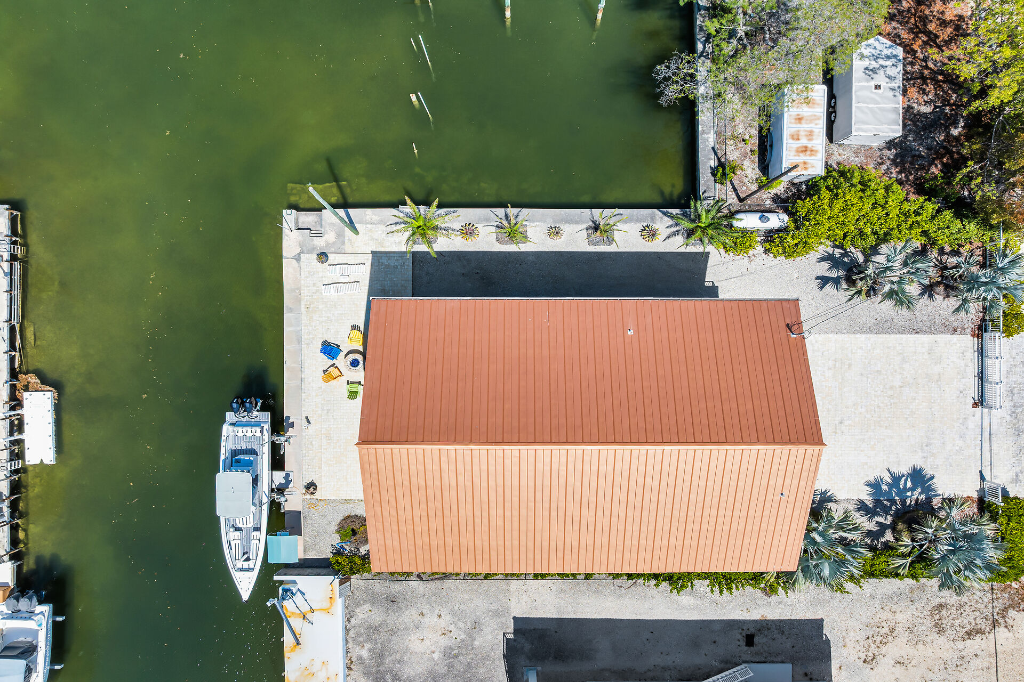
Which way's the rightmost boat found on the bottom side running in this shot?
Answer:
from top to bottom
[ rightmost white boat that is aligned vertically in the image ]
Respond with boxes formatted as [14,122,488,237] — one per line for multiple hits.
[215,396,275,607]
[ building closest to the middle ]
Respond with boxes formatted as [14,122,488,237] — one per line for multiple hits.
[356,296,827,572]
